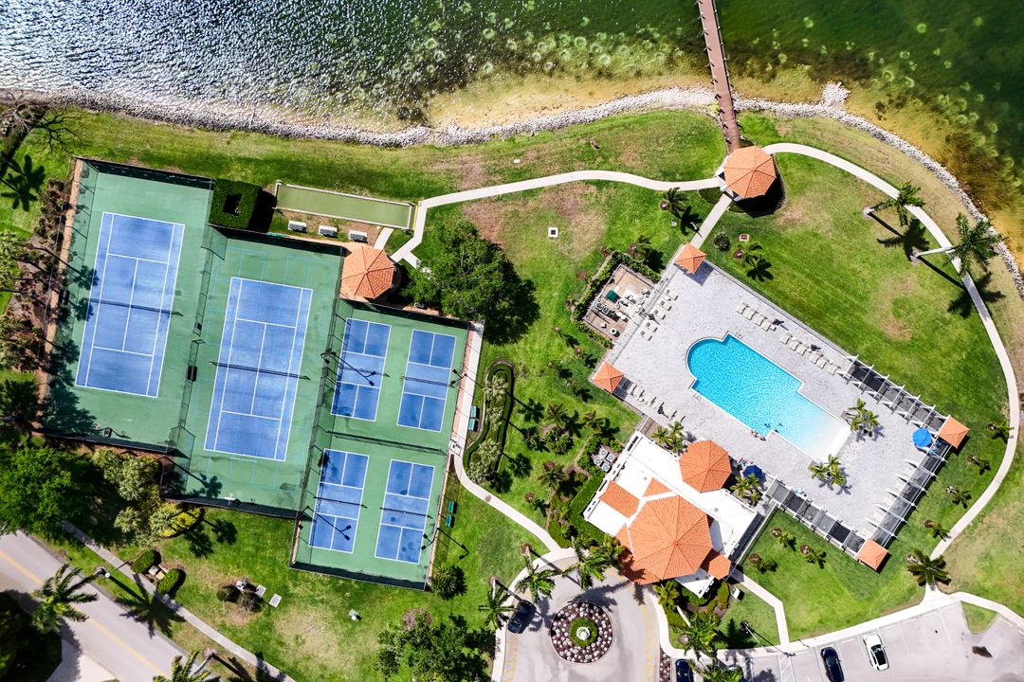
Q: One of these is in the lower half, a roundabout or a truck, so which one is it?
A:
roundabout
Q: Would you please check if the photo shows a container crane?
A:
No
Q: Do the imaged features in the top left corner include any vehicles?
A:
No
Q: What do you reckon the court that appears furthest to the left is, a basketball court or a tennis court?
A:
tennis court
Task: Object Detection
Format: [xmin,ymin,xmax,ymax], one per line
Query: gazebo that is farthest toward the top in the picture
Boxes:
[716,145,777,204]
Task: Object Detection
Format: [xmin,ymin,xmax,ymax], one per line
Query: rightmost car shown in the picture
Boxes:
[865,635,890,673]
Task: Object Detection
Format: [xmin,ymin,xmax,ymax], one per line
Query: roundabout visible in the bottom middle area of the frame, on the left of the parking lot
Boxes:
[551,601,613,663]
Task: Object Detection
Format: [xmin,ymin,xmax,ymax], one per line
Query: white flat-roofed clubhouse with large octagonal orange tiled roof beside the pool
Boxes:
[582,426,759,611]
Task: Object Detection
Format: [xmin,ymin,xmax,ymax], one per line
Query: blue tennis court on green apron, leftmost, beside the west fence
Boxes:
[44,163,216,450]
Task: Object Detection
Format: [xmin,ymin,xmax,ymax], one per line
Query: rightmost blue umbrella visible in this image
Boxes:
[909,427,929,447]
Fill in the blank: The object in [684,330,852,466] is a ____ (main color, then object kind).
blue swimming pool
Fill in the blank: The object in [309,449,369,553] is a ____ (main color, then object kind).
blue sports court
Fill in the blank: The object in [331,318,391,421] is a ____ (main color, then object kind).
blue sports court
